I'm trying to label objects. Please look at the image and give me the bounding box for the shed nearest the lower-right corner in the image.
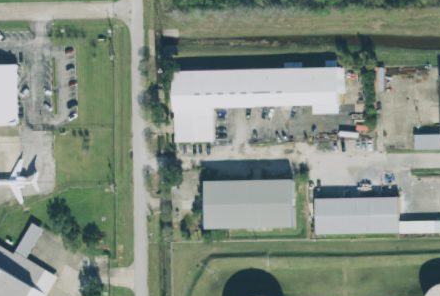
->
[399,220,440,234]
